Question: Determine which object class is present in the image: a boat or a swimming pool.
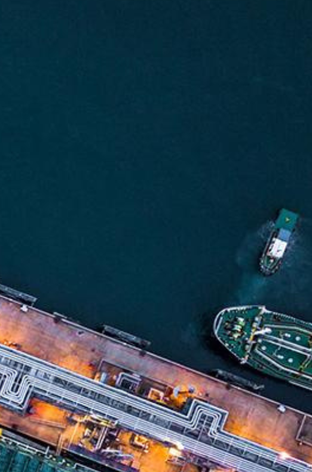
boat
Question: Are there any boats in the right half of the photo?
Yes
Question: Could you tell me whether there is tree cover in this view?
No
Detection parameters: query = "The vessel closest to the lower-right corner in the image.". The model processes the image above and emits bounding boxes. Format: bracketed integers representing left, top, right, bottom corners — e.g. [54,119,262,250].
[210,305,312,392]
